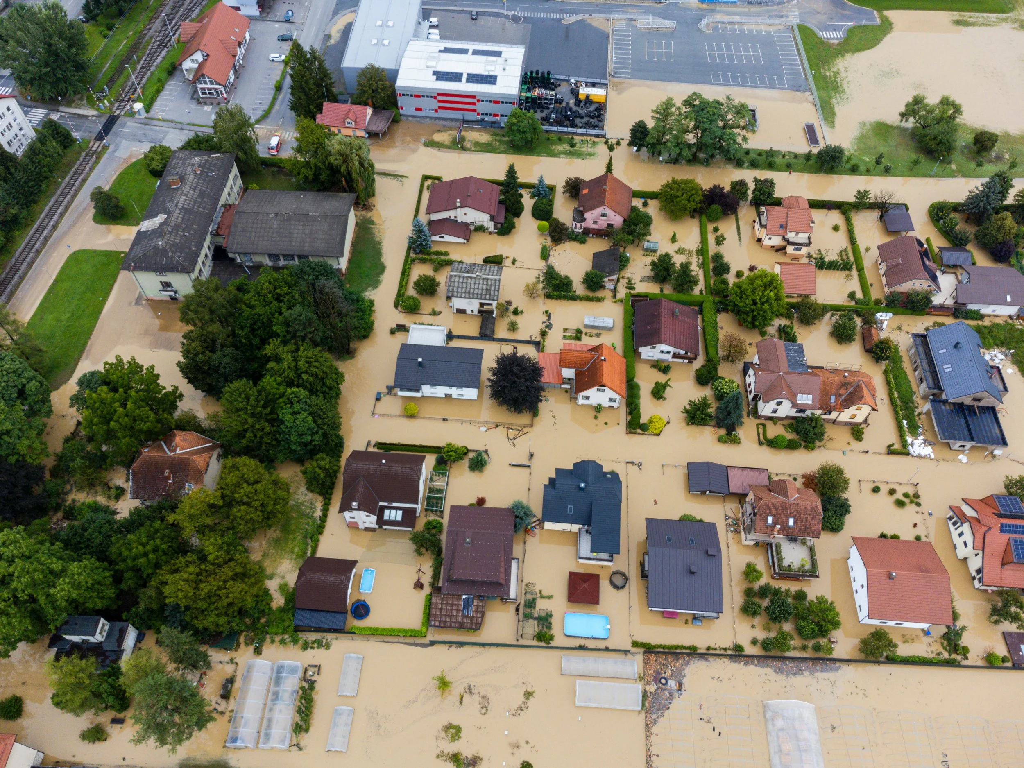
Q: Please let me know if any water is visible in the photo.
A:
Yes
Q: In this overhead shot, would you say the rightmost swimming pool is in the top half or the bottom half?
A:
bottom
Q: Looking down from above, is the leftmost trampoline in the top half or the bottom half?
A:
bottom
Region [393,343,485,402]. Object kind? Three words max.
house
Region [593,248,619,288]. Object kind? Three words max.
shed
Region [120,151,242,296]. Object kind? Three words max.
building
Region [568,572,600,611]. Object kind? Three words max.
gazebo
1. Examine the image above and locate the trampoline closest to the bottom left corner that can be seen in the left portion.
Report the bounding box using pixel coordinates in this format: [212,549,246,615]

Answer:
[349,596,372,622]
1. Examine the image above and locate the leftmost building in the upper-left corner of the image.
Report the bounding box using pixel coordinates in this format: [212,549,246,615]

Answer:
[0,95,36,157]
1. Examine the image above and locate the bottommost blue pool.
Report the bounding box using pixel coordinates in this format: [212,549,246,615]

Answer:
[564,613,611,639]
